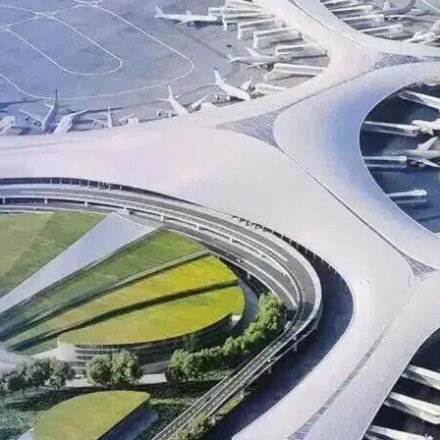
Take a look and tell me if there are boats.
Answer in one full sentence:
No, I can't see a single boat in this photo.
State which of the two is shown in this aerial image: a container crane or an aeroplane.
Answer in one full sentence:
Of the two, only an aeroplane appears.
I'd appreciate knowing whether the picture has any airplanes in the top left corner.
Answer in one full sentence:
Yes, looking in the top left corner, one can make out an airplane.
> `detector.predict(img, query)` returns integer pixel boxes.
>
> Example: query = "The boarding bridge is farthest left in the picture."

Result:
[0,118,16,136]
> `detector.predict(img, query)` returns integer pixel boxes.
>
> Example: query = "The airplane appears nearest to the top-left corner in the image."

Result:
[27,97,76,133]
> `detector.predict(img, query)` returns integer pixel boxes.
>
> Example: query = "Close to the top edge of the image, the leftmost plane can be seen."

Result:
[156,6,222,23]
